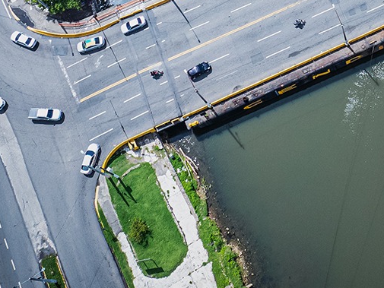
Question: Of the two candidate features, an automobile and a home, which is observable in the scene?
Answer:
automobile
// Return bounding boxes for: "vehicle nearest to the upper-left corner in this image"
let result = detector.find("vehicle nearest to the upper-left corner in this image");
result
[9,30,39,51]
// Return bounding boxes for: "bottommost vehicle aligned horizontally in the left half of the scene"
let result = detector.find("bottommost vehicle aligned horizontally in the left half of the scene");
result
[23,107,64,123]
